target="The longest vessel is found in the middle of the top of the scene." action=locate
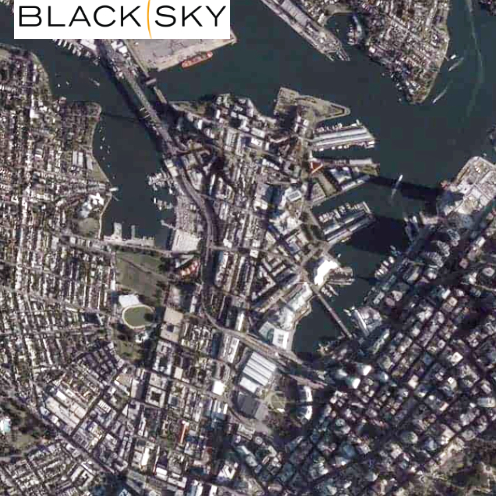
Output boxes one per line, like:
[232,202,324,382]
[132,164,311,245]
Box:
[182,51,212,66]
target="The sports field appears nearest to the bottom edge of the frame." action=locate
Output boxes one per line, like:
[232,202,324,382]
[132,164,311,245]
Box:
[118,293,155,330]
